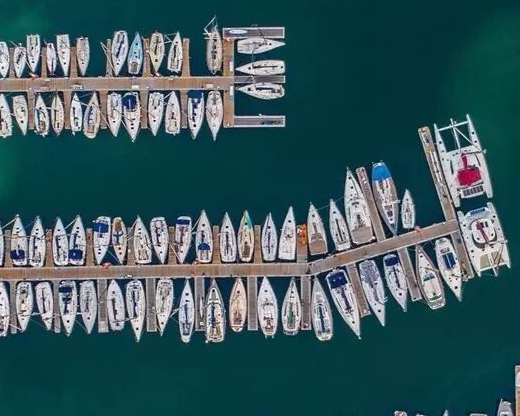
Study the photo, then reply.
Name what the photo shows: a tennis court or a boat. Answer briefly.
boat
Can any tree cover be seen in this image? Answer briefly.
No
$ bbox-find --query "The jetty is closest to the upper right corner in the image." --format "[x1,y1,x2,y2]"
[418,126,455,222]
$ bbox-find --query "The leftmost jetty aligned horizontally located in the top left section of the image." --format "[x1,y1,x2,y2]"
[0,77,234,92]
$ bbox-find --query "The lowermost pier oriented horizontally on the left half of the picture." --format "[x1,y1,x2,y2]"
[0,263,311,281]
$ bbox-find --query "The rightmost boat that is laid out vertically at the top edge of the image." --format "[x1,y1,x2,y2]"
[205,19,223,72]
